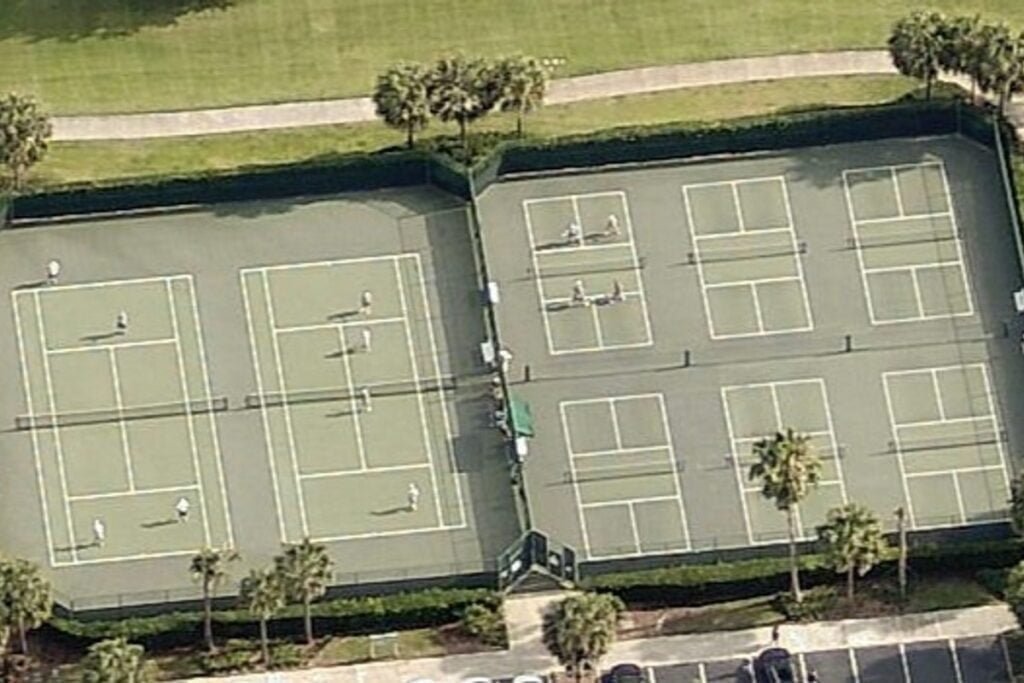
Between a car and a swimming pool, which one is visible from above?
car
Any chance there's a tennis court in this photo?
Yes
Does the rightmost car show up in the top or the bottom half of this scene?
bottom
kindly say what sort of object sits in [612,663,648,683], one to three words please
car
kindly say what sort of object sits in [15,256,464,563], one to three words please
tennis court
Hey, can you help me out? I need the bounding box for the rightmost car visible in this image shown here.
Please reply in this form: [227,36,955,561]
[761,648,798,683]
